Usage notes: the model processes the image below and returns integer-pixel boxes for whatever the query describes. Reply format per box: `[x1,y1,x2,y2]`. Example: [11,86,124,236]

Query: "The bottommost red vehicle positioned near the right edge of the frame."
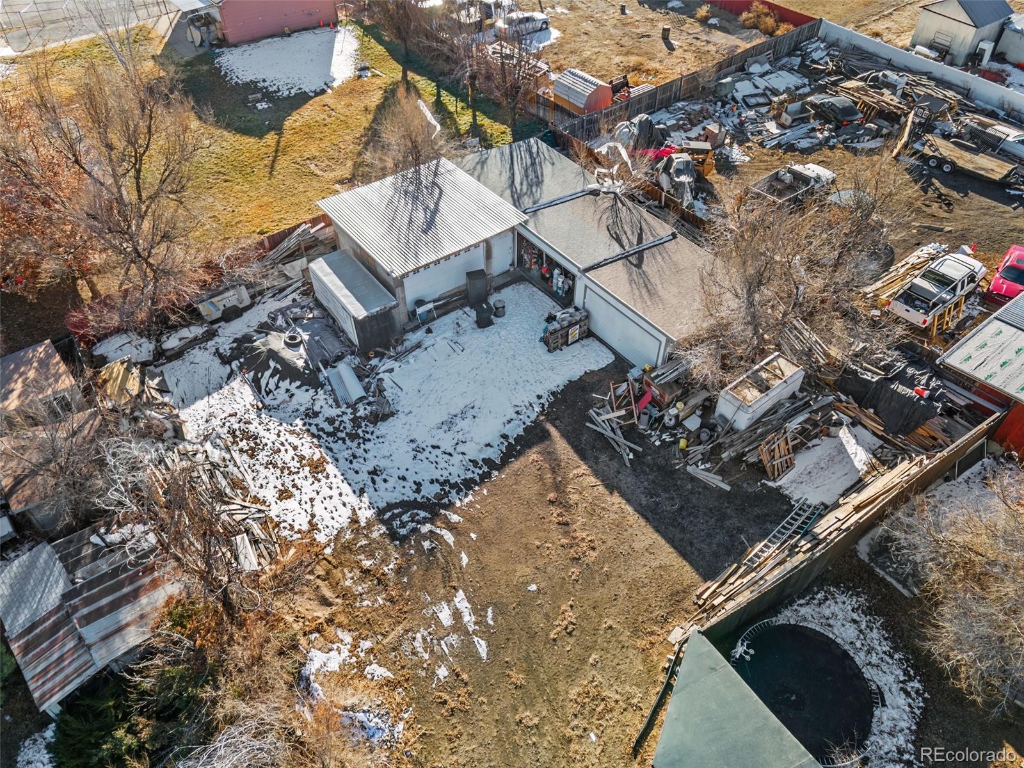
[981,244,1024,306]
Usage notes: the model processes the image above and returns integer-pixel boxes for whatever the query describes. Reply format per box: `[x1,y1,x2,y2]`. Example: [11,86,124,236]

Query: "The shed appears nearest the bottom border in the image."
[652,628,823,768]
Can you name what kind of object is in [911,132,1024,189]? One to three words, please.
trailer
